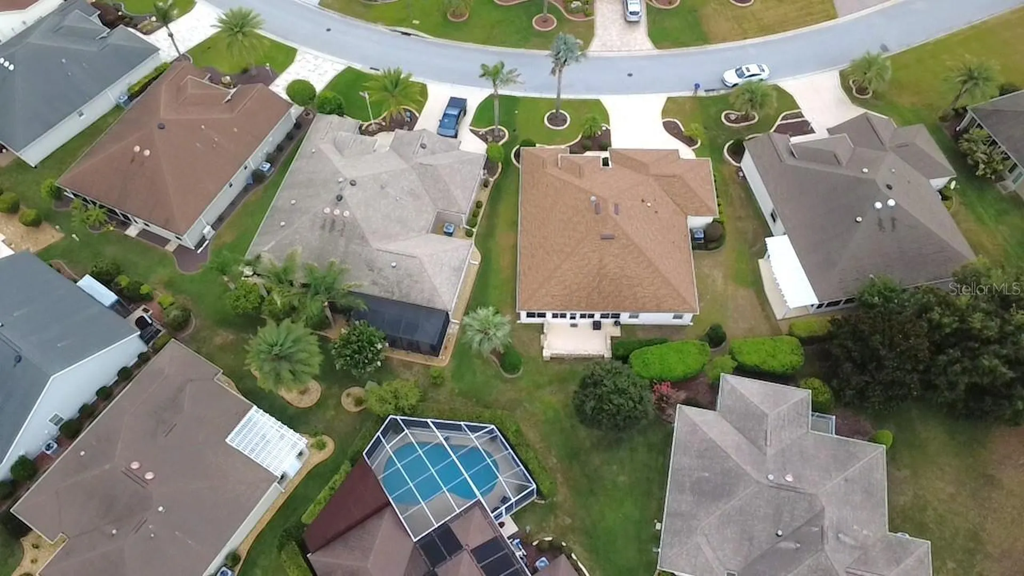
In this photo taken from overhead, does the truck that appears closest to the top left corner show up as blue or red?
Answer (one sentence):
In this view, the truck that appears closest to the top left corner is blue.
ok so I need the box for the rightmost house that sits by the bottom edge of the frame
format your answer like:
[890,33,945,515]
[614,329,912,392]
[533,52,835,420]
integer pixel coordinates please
[657,373,933,576]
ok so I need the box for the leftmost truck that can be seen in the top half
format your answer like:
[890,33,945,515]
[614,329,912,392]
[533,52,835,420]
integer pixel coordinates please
[437,91,470,137]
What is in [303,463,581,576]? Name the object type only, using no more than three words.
house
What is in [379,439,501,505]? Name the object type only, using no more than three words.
swimming pool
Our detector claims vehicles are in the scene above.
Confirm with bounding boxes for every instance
[623,0,645,19]
[437,91,470,137]
[720,62,773,88]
